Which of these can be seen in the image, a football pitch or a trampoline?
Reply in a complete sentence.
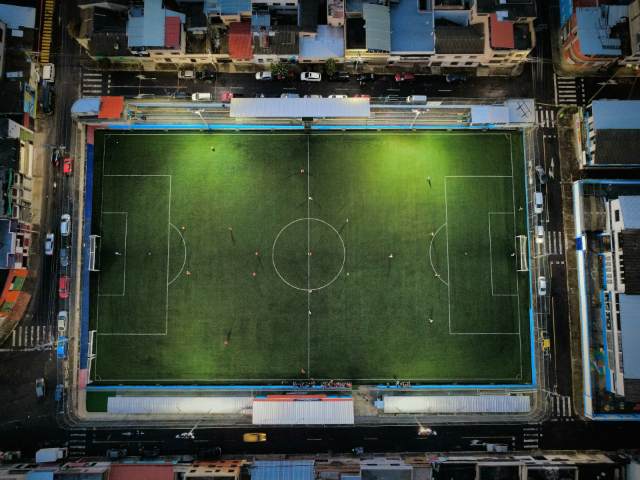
Of the two, only a football pitch appears.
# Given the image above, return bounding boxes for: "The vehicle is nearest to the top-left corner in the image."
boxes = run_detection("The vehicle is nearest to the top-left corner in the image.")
[42,64,57,117]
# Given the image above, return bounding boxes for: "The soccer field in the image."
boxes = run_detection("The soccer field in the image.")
[88,128,531,386]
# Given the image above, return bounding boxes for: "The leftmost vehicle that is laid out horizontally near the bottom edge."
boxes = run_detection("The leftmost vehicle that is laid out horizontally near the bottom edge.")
[36,446,71,461]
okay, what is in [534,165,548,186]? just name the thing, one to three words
vehicle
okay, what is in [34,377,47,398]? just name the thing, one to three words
vehicle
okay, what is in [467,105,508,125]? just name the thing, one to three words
building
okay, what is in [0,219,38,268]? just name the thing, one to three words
house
